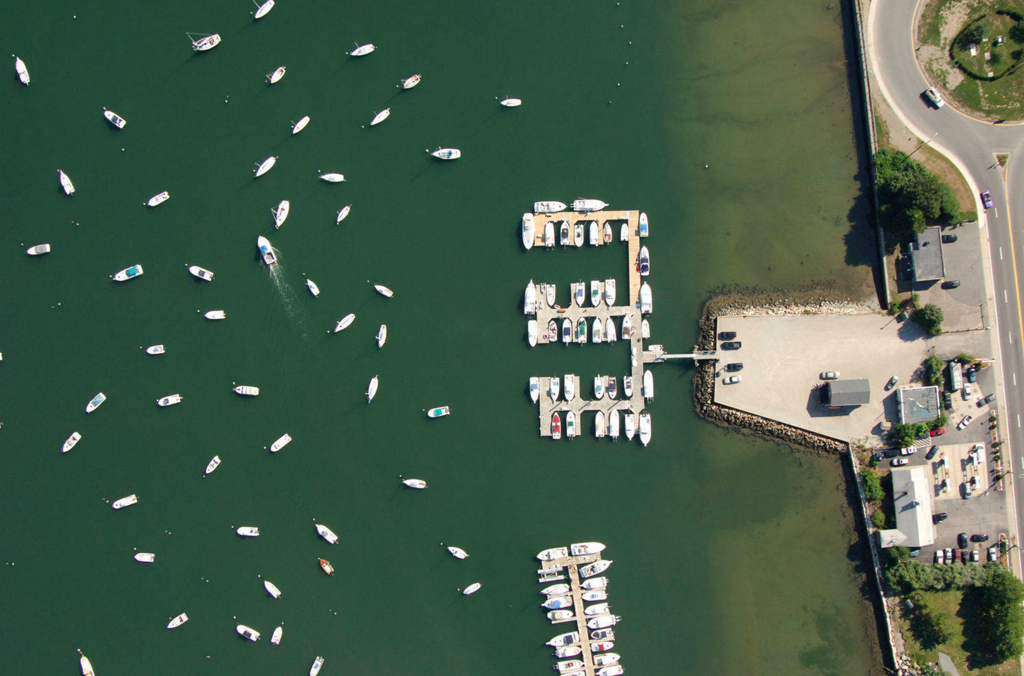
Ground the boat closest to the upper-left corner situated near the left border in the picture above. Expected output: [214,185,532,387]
[15,54,30,85]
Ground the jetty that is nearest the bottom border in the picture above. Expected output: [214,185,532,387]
[542,552,619,676]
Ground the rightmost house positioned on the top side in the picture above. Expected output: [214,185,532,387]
[907,226,945,284]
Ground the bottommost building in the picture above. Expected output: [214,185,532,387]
[878,468,934,548]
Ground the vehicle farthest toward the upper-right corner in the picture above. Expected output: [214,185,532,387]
[926,86,946,108]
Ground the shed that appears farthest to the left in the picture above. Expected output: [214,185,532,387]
[819,378,871,408]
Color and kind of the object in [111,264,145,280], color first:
white boat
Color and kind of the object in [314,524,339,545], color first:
white boat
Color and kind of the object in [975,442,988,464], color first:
white vehicle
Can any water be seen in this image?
Yes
